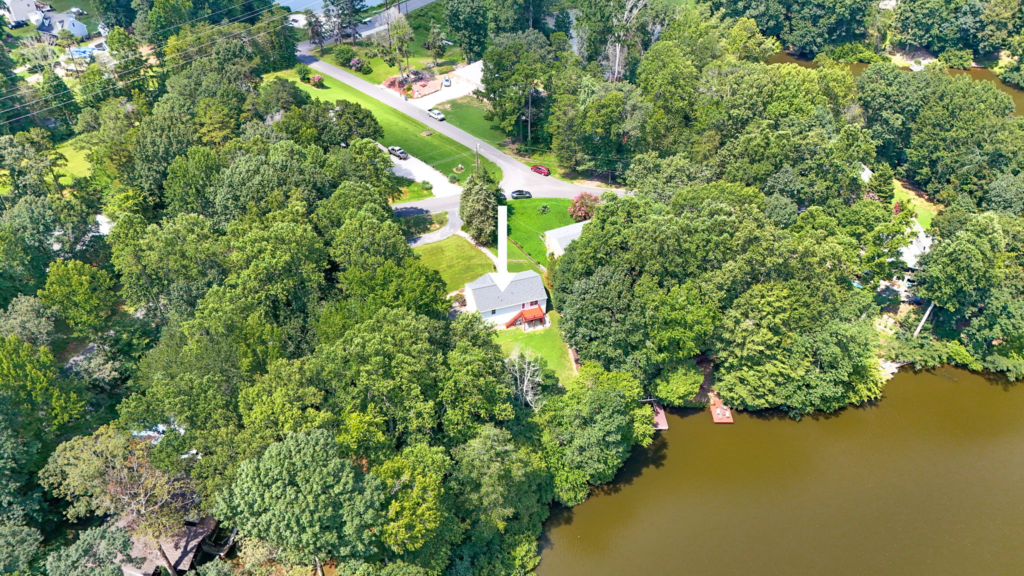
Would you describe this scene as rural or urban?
rural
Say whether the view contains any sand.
No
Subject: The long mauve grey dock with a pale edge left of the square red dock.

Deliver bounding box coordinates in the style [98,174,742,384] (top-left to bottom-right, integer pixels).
[650,403,668,431]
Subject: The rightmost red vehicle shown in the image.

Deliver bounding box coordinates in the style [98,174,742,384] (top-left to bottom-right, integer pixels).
[531,165,551,177]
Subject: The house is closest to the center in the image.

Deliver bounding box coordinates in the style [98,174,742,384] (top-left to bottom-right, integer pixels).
[468,266,547,323]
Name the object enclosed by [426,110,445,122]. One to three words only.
vehicle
